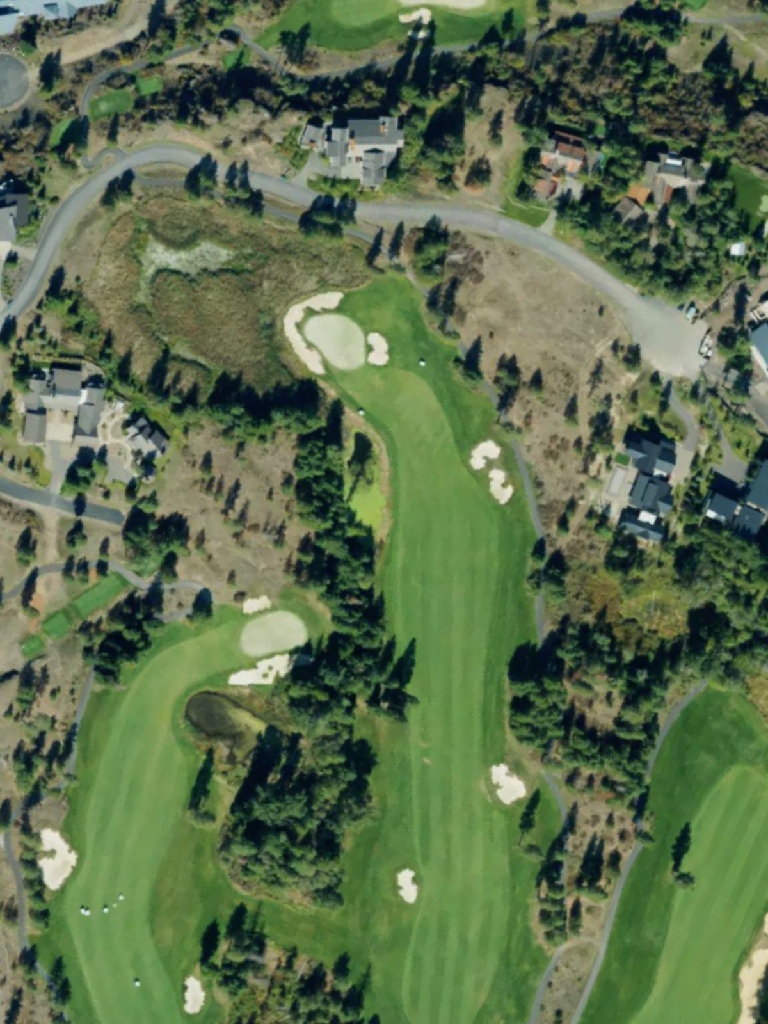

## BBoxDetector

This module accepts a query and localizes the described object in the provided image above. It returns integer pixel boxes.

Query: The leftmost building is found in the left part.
[0,191,29,241]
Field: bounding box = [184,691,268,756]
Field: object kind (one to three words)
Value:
pond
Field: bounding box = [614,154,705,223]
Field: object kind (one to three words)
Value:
house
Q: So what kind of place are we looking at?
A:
golf course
